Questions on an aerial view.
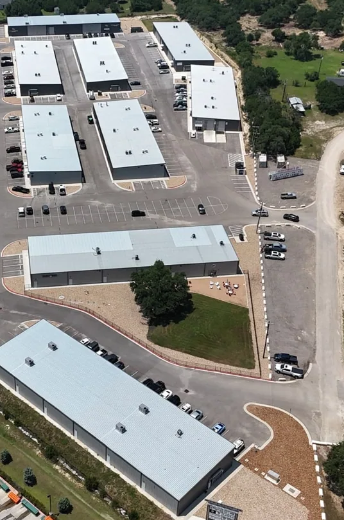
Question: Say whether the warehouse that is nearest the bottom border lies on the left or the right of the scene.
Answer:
left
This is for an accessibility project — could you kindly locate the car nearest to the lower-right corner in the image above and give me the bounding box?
[230,437,248,455]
